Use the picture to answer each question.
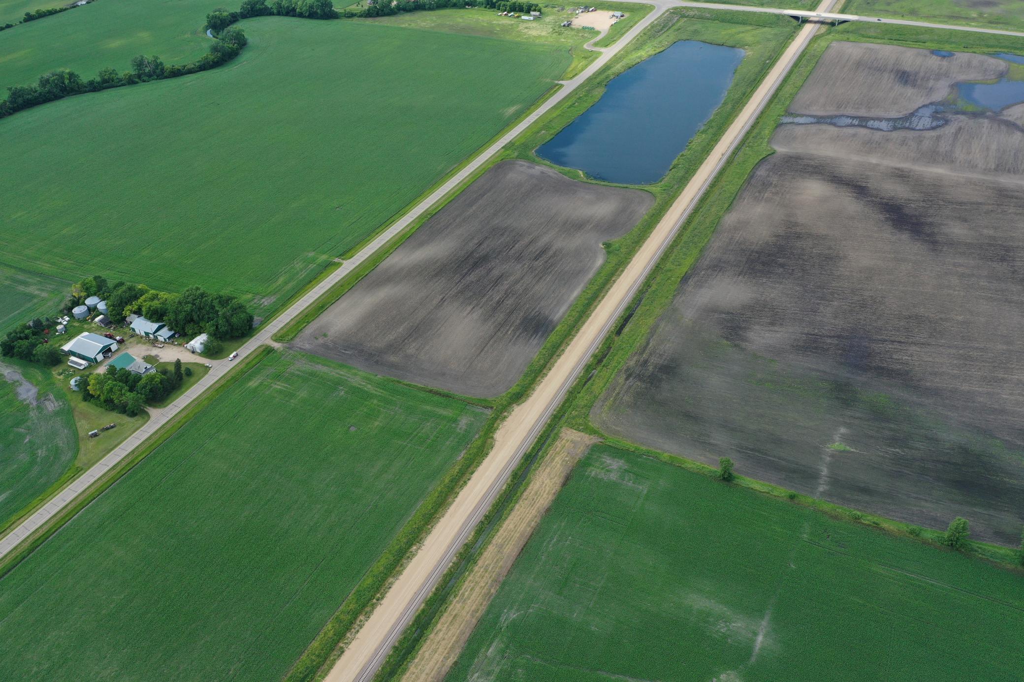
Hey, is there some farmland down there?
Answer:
Yes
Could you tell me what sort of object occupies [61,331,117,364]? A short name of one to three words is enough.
barn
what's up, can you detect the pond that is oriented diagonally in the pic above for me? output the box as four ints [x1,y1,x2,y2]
[537,40,744,185]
